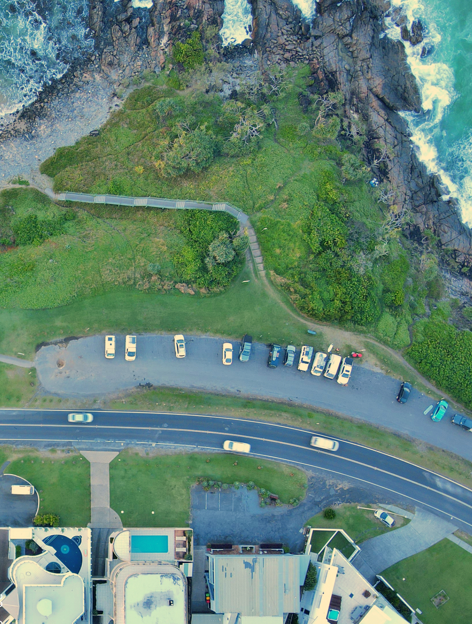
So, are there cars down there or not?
Yes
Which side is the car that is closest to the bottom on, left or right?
right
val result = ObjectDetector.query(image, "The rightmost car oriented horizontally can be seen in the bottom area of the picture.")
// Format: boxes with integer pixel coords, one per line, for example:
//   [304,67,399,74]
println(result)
[314,437,339,450]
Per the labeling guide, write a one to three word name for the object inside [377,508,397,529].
car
